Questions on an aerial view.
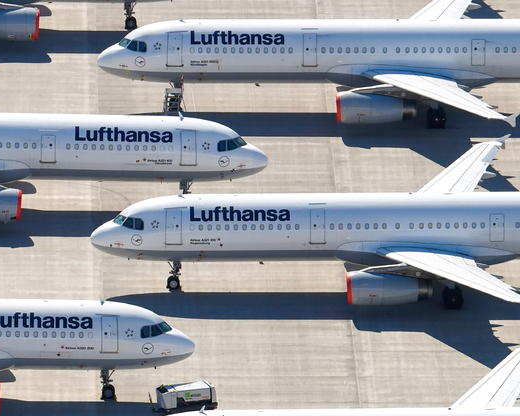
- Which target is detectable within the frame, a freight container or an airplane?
airplane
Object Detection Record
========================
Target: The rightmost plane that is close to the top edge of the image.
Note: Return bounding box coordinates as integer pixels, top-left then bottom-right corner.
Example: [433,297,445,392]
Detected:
[97,0,520,130]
